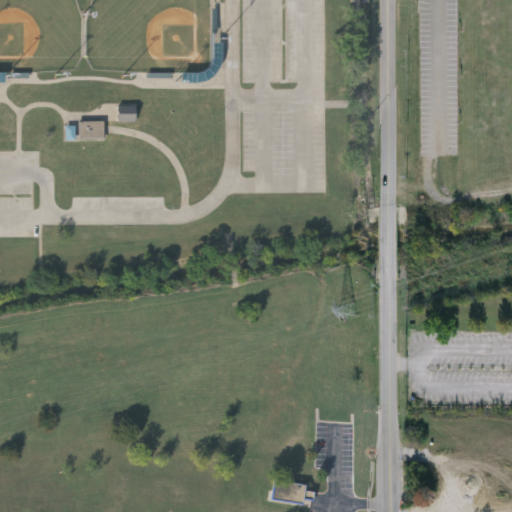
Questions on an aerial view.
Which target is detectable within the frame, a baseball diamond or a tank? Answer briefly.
baseball diamond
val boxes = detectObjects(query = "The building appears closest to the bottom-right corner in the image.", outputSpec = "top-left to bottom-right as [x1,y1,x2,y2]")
[272,482,315,504]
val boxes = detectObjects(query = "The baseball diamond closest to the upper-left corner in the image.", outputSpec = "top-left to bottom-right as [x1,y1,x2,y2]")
[0,0,82,71]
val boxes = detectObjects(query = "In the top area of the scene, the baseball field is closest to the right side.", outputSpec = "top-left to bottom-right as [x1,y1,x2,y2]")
[87,0,210,72]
